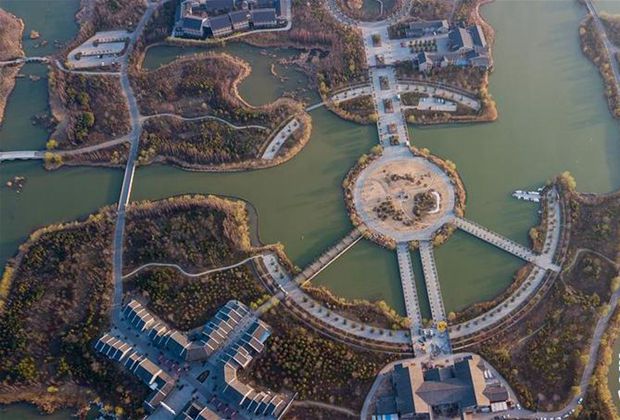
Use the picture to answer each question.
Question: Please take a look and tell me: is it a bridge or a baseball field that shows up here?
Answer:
bridge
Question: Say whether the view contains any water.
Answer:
Yes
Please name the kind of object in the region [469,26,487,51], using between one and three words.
building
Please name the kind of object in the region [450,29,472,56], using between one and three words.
building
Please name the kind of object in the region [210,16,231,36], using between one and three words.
house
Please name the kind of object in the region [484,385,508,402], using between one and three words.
house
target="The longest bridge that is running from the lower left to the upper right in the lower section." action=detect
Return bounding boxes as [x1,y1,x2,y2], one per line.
[293,226,361,286]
